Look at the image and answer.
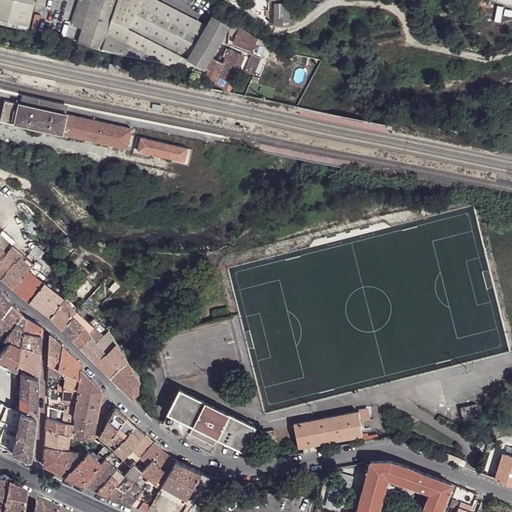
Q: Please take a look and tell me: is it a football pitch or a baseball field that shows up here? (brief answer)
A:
football pitch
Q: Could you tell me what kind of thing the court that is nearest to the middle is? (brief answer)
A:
basketball court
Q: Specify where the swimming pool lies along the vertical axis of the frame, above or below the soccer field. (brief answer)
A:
above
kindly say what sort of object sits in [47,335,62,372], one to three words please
house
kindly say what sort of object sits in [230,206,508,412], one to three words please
soccer field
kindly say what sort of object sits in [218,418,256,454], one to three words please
building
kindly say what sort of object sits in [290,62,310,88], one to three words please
swimming pool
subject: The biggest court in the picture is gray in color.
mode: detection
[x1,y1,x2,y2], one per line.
[164,321,244,379]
